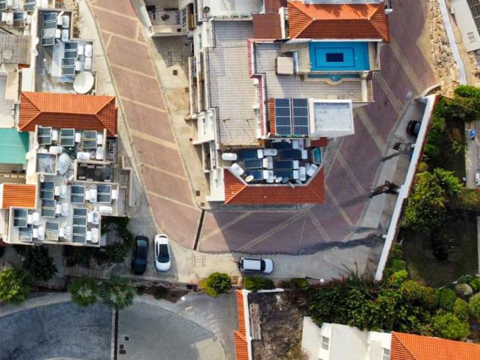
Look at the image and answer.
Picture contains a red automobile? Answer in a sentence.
No, there isn't any red automobile down there.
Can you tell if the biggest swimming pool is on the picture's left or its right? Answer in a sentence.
The biggest swimming pool appears in the right half of the scene.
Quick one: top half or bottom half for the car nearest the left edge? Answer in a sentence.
You can find the car nearest the left edge in the bottom half.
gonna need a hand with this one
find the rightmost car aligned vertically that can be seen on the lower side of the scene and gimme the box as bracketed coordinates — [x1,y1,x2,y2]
[154,233,172,272]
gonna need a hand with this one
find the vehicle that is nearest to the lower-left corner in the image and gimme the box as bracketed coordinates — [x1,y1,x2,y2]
[129,235,151,274]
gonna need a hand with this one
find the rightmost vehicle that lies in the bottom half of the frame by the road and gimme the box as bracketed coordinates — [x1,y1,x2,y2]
[239,257,274,275]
